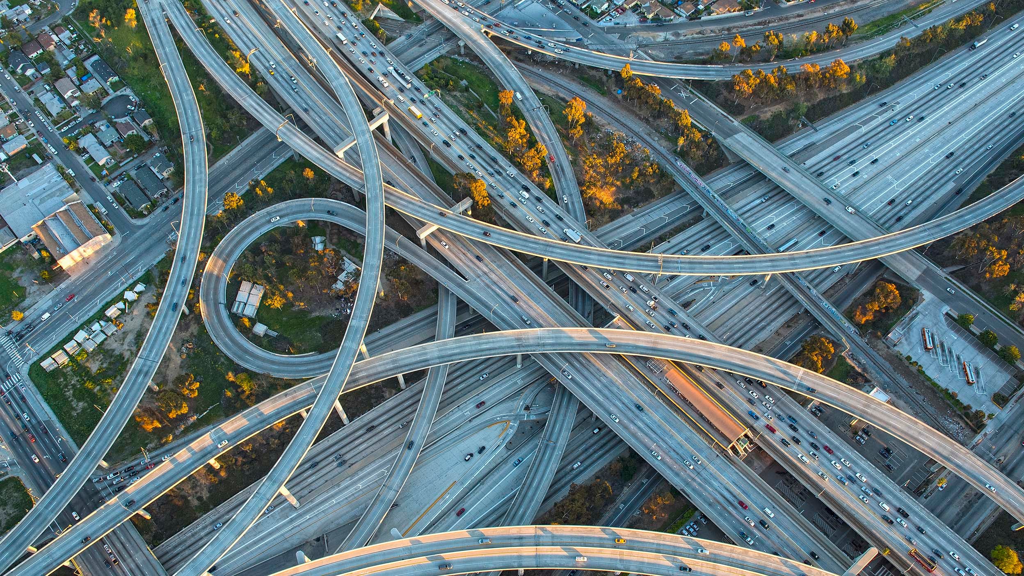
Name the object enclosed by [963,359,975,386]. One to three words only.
vehicle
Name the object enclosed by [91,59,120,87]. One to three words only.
house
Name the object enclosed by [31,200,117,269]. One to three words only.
building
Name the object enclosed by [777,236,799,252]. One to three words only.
vehicle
